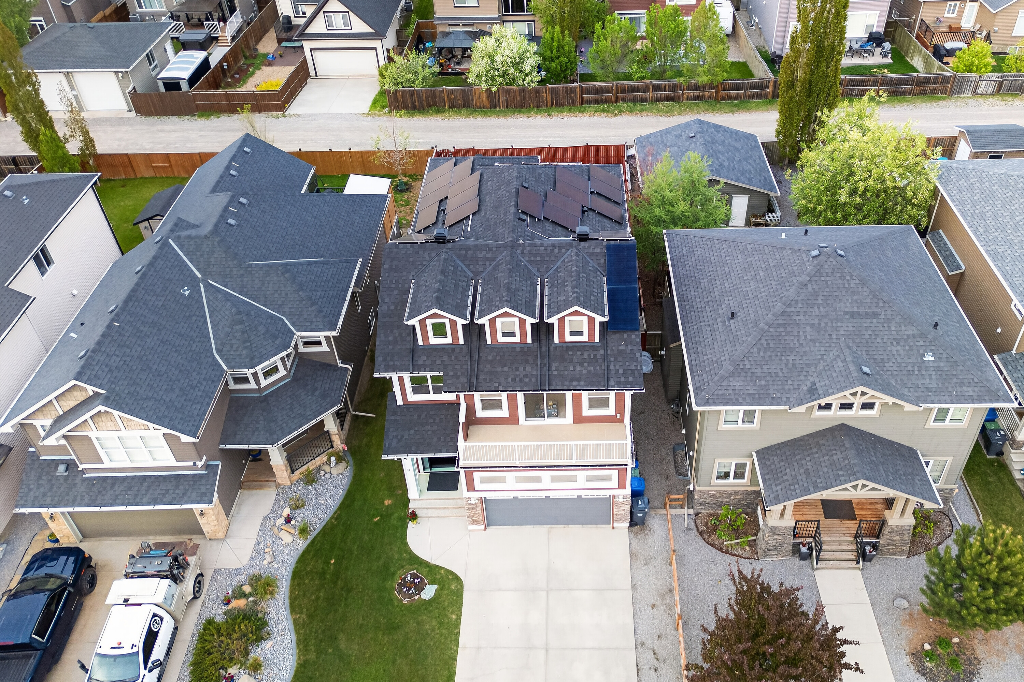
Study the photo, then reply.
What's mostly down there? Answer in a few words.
buildings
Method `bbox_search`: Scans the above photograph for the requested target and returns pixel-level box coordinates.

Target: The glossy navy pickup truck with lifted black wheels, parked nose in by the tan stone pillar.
[0,549,97,682]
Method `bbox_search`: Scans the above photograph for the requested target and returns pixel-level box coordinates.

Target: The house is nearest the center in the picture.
[374,156,644,531]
